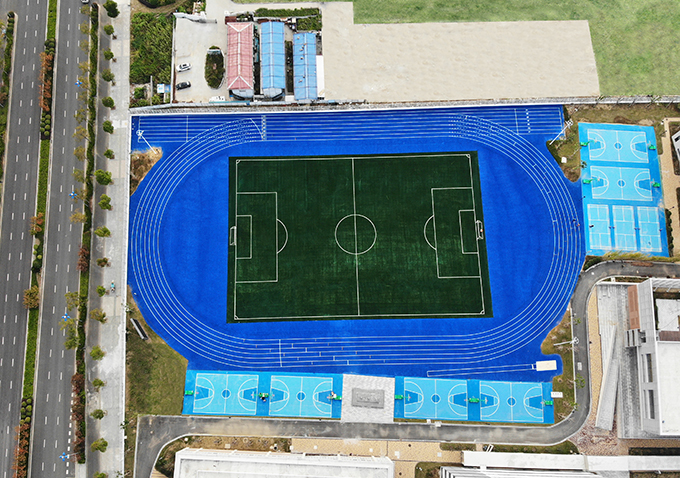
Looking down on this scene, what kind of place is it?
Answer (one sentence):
The area seen from above is a sports ground.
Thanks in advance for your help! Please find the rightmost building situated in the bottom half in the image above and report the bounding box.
[590,277,680,439]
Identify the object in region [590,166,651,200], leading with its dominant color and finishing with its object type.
blue basketball court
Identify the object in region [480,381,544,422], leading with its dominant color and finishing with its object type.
blue basketball court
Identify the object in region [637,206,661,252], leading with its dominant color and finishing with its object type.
blue sports court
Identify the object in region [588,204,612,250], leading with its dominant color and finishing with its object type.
blue sports court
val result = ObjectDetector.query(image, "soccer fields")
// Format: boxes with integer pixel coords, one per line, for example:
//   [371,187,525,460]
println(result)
[226,151,493,323]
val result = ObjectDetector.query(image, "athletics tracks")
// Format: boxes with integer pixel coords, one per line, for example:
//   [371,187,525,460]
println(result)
[128,105,587,382]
